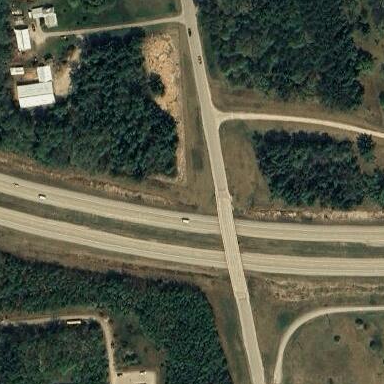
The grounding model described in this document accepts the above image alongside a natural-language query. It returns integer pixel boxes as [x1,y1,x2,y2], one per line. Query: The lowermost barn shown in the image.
[17,81,56,108]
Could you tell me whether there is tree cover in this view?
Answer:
Yes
